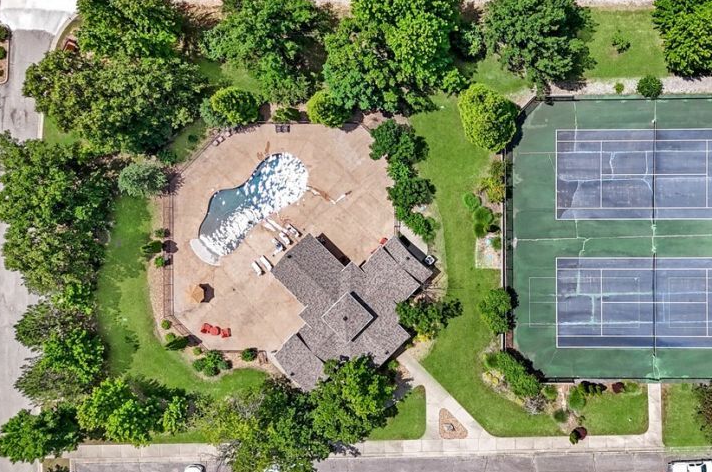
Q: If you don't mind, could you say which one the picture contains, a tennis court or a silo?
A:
tennis court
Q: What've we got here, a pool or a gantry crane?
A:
pool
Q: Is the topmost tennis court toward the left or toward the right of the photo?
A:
right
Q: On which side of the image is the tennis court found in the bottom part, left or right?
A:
right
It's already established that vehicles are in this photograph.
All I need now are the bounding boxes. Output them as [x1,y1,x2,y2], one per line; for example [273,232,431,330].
[185,464,206,472]
[668,458,712,472]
